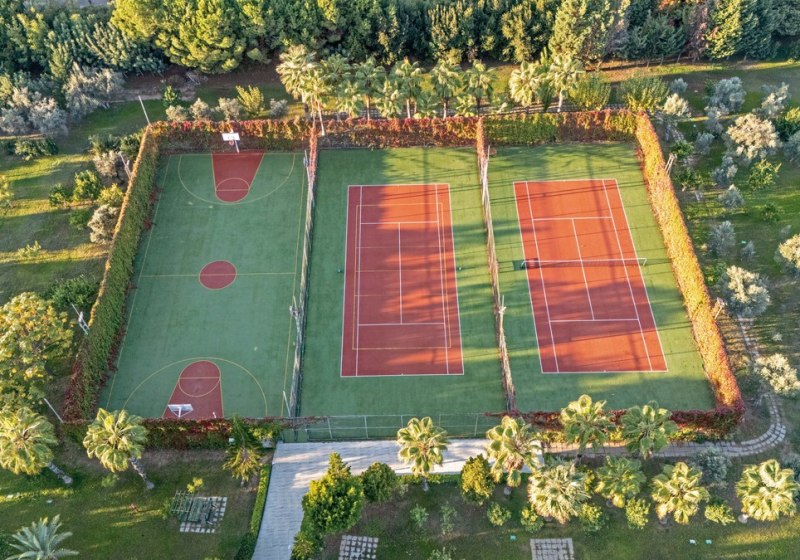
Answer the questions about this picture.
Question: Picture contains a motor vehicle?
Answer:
No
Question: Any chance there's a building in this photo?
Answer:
No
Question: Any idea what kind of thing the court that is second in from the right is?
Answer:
tennis court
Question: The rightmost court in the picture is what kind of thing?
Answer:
tennis court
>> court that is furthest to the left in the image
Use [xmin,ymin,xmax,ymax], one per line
[90,149,318,441]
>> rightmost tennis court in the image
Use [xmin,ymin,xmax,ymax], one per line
[484,141,717,430]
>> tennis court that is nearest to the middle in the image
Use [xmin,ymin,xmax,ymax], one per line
[295,144,518,441]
